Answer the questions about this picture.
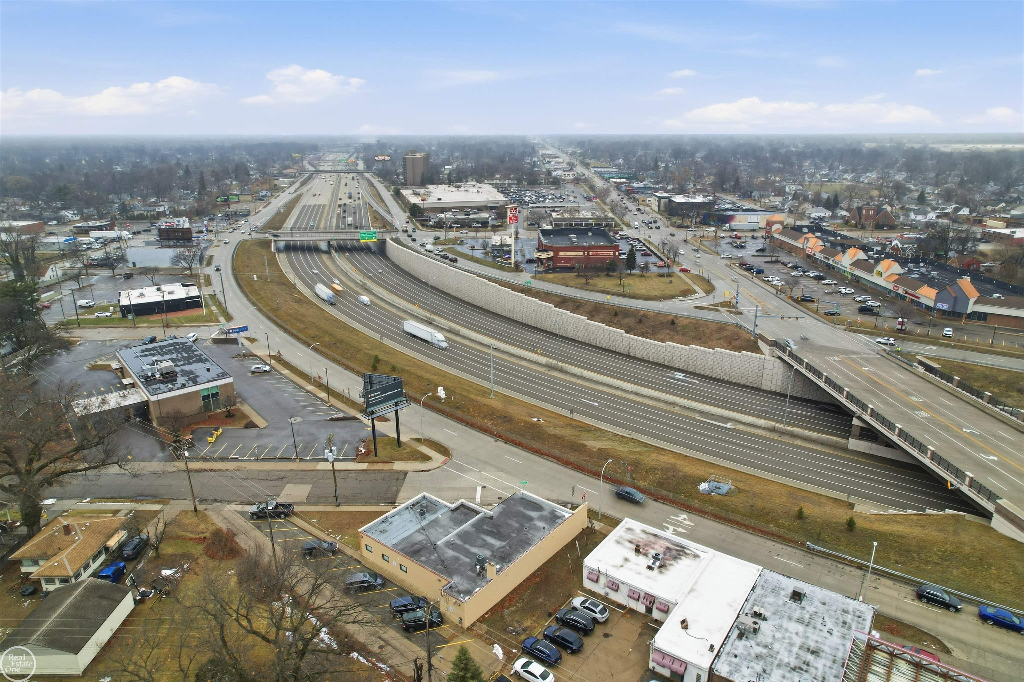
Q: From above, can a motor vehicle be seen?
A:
Yes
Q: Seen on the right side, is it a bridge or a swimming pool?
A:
bridge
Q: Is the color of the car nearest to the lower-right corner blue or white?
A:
blue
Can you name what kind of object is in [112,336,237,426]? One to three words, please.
building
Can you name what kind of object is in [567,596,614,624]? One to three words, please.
car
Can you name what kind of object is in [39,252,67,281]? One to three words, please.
house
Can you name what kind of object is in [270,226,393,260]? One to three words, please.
bridge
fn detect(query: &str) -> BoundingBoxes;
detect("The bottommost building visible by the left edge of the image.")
[0,575,136,675]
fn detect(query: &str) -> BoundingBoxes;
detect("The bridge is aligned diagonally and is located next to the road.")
[758,332,1024,559]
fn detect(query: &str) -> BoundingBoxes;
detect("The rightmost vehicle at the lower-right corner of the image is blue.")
[976,606,1024,637]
